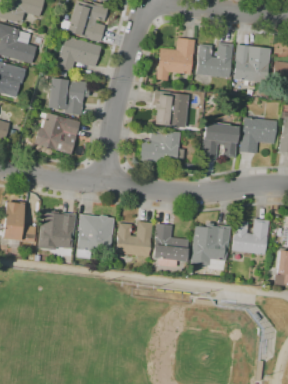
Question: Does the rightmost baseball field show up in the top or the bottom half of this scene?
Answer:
bottom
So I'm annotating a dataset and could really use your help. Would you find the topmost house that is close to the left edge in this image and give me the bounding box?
[0,0,46,26]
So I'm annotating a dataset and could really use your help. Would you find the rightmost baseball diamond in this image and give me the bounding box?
[148,304,260,384]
